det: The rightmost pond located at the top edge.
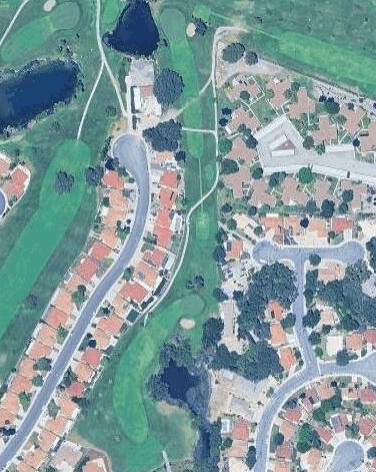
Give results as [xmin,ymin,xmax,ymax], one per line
[104,0,159,57]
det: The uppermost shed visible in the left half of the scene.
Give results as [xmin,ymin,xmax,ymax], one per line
[129,63,151,83]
